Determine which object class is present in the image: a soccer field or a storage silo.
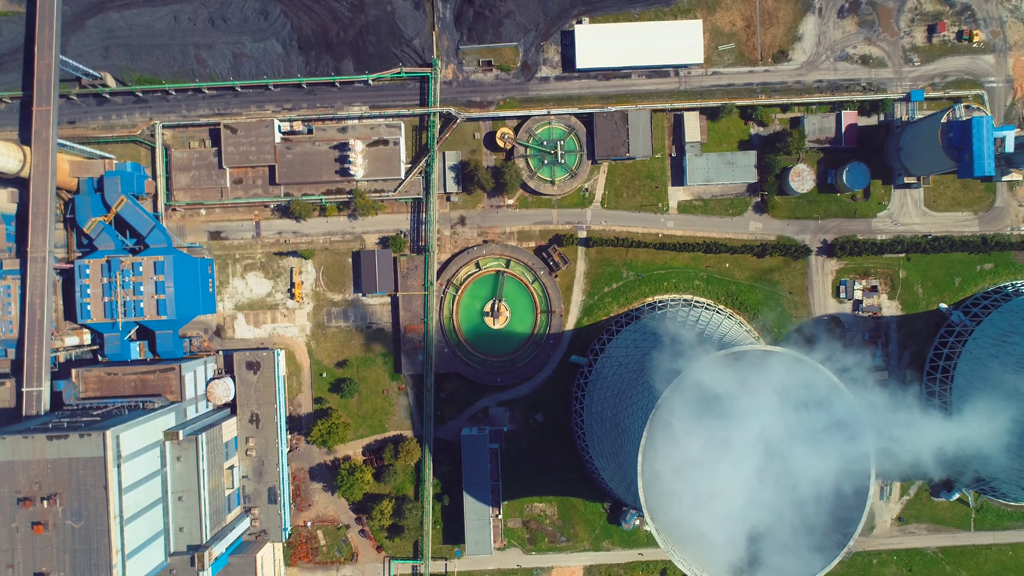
storage silo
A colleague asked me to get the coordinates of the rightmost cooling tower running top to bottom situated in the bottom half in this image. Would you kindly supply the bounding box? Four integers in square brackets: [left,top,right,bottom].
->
[918,272,1024,507]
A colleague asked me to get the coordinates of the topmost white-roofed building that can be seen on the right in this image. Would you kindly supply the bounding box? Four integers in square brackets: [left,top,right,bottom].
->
[574,18,704,72]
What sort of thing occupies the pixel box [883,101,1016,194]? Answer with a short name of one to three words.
silo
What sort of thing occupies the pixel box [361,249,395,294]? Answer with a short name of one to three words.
shed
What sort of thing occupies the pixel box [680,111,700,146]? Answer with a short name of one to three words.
building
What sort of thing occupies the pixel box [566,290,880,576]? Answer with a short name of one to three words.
cooling tower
